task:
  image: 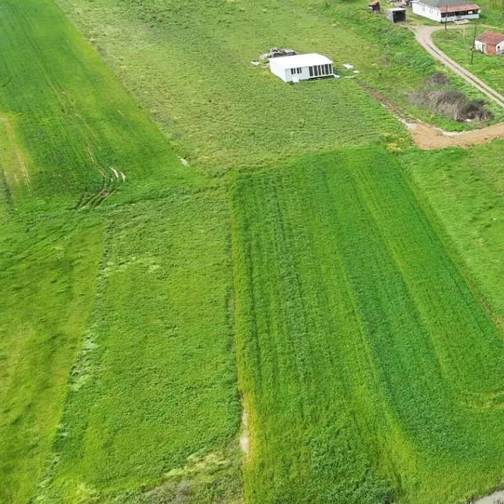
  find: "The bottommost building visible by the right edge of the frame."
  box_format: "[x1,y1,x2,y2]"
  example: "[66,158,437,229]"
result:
[470,26,504,55]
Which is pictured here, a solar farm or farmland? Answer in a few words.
farmland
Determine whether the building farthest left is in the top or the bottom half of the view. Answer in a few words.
top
